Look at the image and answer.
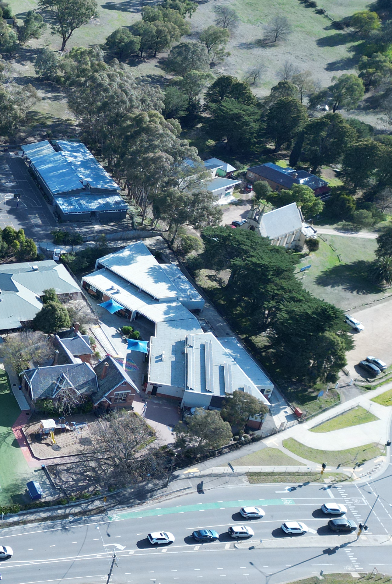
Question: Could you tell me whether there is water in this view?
No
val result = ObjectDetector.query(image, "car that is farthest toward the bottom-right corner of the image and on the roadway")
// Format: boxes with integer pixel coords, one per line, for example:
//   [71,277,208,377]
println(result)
[327,518,357,532]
